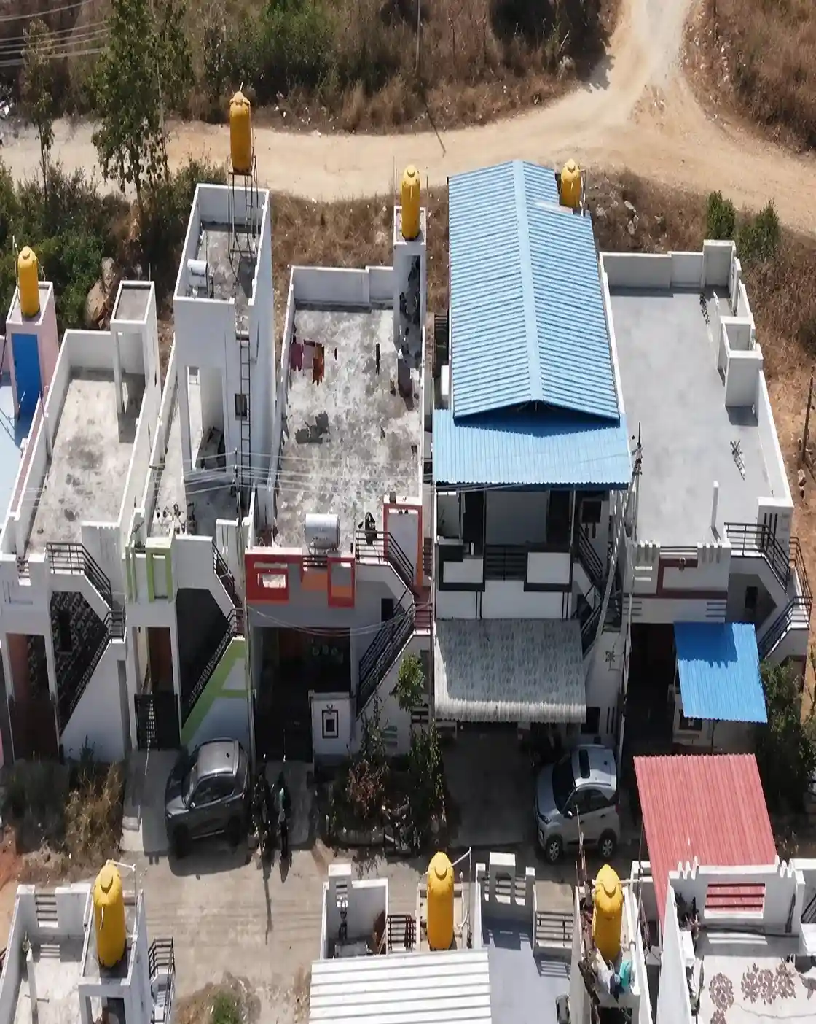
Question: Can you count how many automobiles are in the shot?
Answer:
2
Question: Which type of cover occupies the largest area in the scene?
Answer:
buildings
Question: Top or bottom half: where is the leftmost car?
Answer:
bottom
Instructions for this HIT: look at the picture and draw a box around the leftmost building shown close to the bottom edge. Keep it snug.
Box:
[0,876,179,1024]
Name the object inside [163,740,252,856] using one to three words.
car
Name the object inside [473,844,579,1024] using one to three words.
house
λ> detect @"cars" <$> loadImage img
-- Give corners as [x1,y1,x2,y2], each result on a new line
[163,740,252,856]
[533,751,623,864]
